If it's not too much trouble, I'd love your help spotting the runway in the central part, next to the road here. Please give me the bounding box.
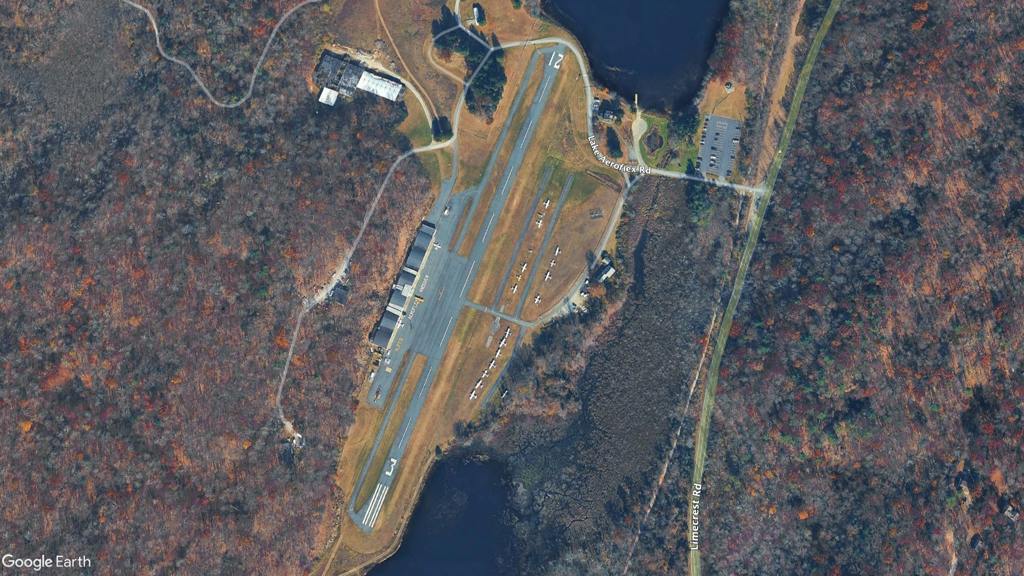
[360,45,566,533]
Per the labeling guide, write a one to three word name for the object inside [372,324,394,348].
hangar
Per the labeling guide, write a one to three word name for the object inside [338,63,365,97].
building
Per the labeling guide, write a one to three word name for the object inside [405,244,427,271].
hangar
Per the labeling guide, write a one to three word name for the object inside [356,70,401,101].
building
